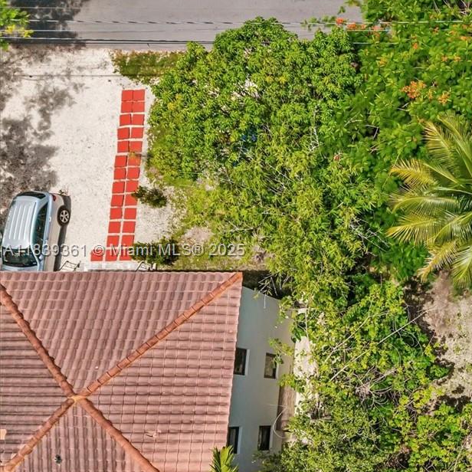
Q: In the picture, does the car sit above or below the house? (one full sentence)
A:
It's above the house that the car shows up.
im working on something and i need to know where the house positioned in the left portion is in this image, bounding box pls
[0,268,294,472]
